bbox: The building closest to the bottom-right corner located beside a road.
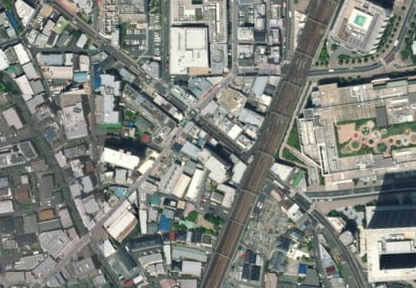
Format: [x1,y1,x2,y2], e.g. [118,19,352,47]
[362,226,416,286]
